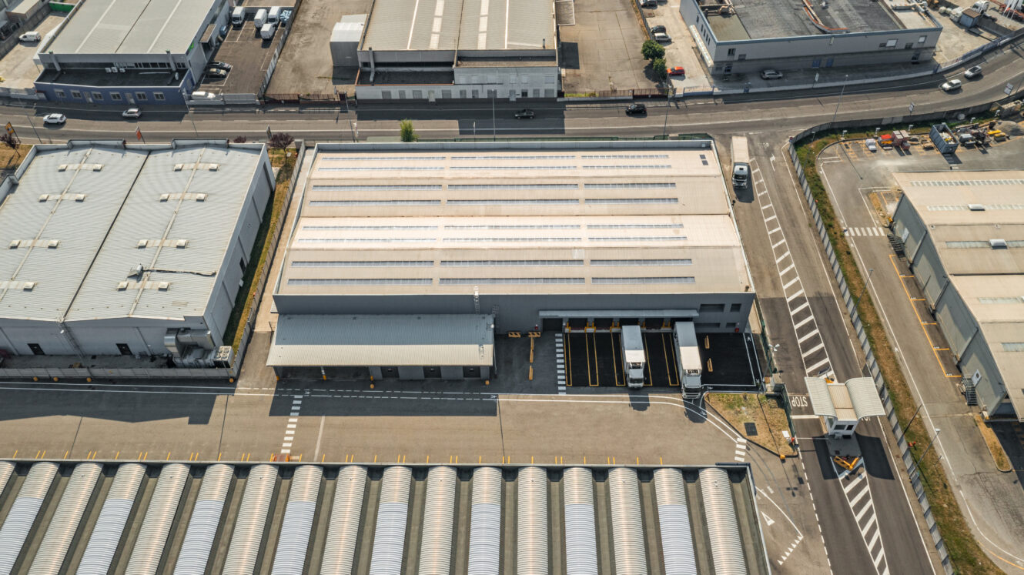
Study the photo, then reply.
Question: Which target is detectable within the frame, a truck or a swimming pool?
truck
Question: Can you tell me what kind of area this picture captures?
industrial area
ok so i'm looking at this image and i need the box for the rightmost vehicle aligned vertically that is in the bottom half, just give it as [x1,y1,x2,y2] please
[671,322,704,403]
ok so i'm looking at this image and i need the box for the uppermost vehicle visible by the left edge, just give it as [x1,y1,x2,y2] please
[19,30,42,42]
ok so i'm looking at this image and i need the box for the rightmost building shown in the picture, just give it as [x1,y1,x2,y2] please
[889,172,1024,422]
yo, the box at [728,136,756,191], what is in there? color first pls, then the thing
white truck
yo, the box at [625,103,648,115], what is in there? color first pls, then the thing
black vehicle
